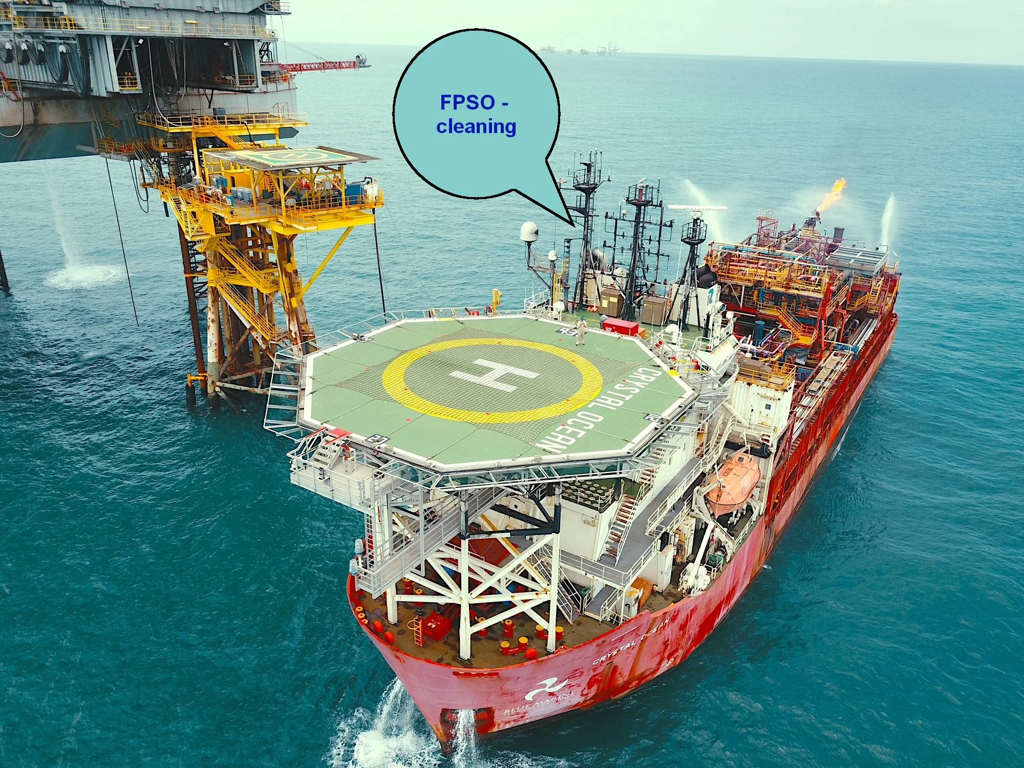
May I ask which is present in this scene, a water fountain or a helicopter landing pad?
helicopter landing pad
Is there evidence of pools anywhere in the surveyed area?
No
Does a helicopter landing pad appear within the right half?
No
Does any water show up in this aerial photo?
Yes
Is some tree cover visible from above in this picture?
No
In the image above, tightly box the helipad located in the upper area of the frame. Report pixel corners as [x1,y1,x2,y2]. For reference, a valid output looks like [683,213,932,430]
[205,146,381,231]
